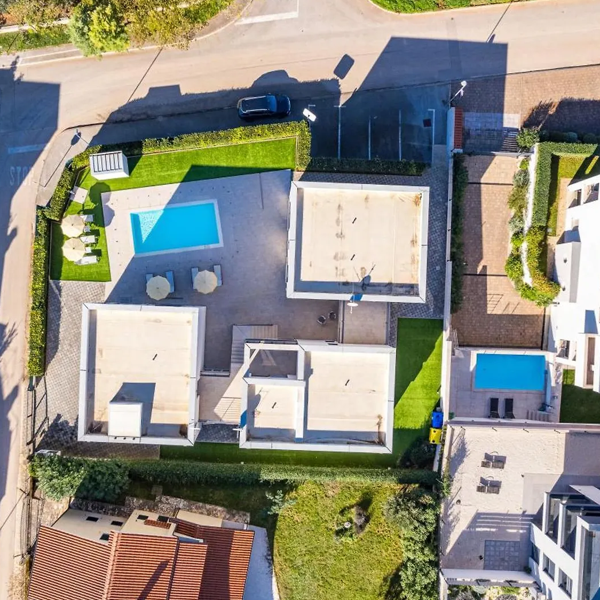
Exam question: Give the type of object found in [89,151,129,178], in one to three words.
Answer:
building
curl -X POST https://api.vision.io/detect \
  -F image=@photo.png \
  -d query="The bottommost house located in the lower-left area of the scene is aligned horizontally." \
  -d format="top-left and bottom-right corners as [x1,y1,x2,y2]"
[21,500,254,600]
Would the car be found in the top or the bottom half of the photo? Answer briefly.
top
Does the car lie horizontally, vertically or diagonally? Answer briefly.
horizontally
